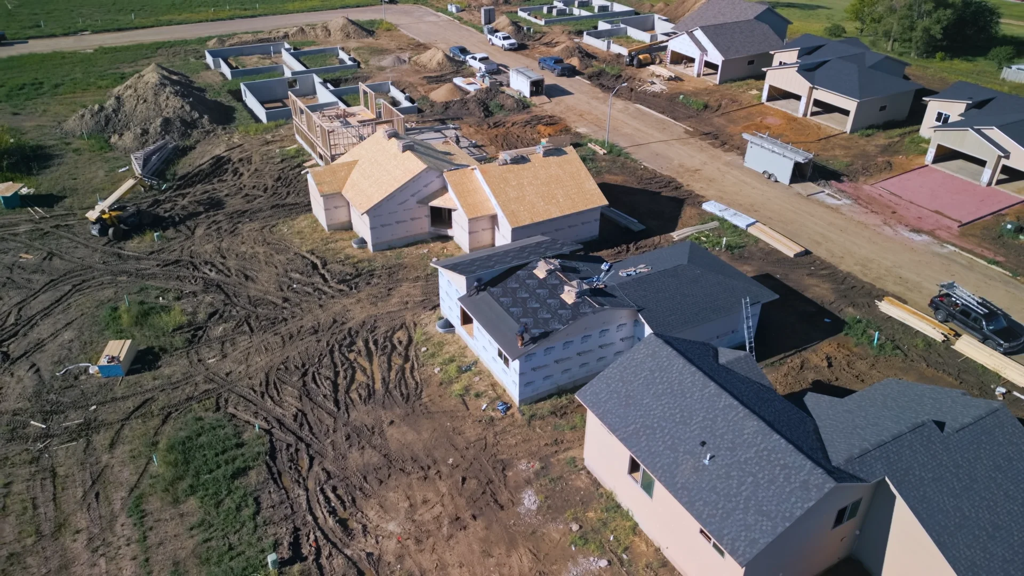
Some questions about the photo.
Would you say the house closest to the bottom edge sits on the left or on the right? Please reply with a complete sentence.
You can find the house closest to the bottom edge on the right side of the picture.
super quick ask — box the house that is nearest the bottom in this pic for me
[574,333,1024,576]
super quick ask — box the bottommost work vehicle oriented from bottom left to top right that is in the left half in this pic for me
[85,180,169,241]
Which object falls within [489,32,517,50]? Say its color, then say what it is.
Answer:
white vehicle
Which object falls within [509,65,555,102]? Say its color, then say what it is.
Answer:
white trailer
